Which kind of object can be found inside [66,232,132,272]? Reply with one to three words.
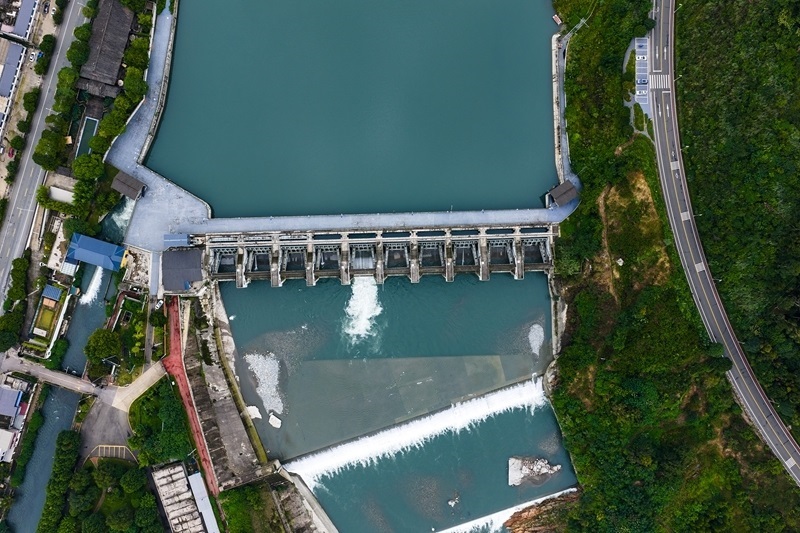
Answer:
building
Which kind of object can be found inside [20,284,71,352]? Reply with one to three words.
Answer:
house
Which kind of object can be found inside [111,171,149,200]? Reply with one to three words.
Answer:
building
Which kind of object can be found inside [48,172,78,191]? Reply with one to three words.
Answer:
house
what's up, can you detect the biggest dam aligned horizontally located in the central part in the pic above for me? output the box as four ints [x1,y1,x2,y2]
[191,208,562,288]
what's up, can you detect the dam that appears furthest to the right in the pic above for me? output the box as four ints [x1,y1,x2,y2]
[434,488,575,533]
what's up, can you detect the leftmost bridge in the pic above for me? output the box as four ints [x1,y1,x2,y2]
[15,356,93,395]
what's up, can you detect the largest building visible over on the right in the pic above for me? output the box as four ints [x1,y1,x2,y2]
[548,180,579,206]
